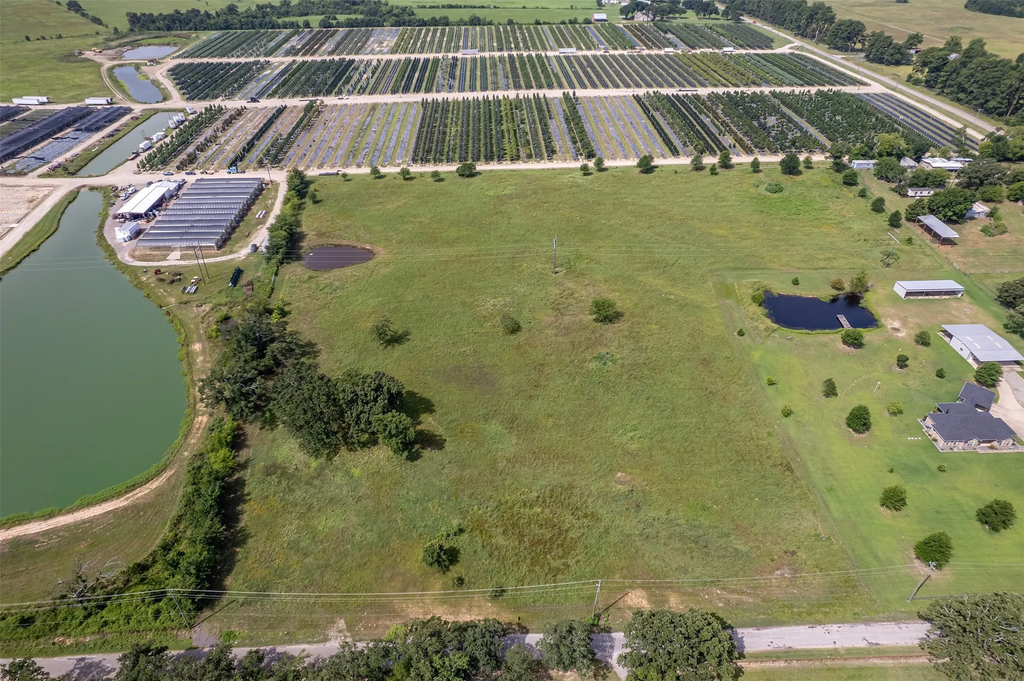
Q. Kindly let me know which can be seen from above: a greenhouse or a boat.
greenhouse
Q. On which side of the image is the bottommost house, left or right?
right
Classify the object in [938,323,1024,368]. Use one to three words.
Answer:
barn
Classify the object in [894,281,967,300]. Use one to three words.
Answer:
shed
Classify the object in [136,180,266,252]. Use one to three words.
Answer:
greenhouse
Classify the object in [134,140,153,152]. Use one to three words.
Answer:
vehicle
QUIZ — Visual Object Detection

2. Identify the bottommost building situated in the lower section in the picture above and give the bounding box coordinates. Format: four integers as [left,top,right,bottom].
[915,377,1022,446]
